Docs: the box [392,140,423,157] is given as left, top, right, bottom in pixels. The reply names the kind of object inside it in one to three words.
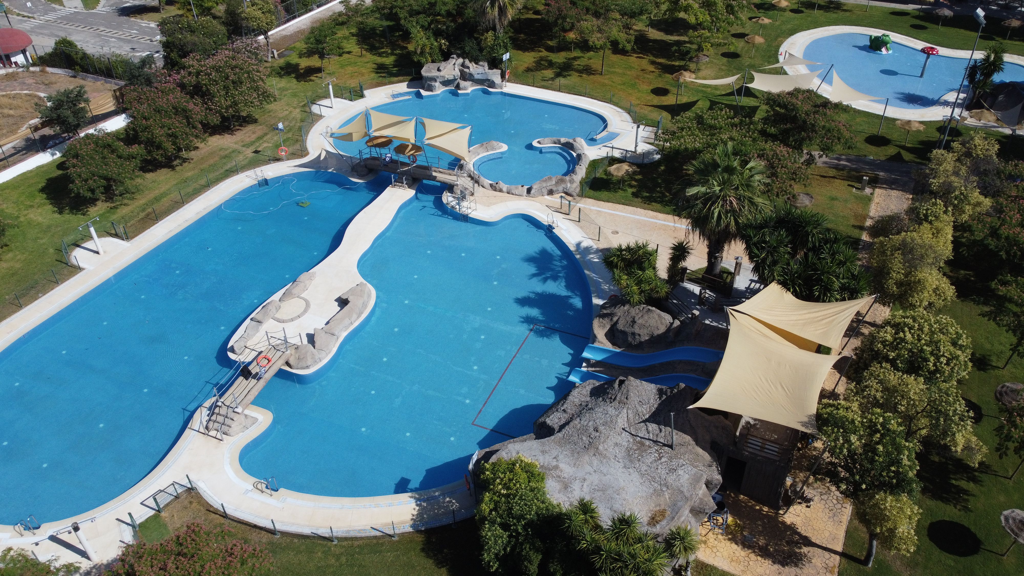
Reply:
umbrella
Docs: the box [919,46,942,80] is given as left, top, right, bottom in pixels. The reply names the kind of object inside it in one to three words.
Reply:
fountain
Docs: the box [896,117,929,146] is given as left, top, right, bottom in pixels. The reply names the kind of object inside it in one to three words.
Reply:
umbrella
